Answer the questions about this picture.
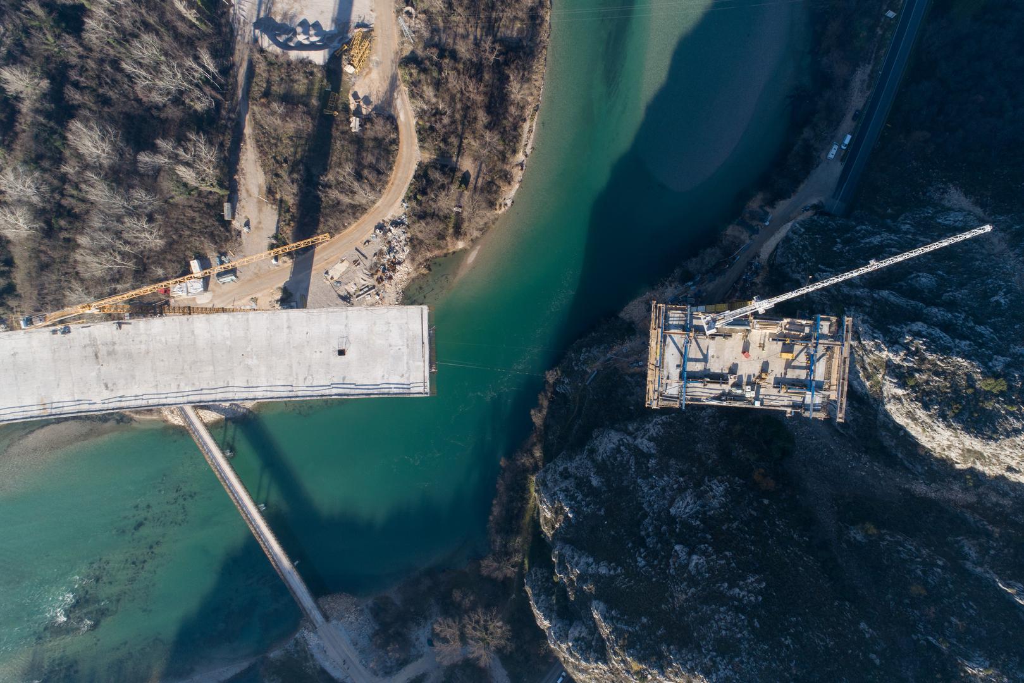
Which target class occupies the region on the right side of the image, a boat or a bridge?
bridge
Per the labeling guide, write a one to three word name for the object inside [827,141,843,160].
vehicle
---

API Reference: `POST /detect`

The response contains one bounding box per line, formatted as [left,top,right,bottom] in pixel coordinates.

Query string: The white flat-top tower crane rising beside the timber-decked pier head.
[655,222,996,335]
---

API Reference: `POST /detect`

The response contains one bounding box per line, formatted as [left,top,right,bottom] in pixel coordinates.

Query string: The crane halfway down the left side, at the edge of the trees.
[21,232,330,331]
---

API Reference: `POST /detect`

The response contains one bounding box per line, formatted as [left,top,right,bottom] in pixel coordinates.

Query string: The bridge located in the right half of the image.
[660,310,837,423]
